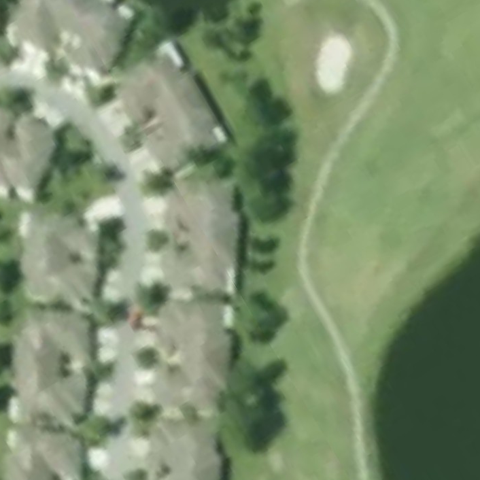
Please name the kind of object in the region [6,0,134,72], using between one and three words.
house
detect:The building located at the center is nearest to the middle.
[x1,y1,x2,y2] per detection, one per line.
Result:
[161,179,240,297]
